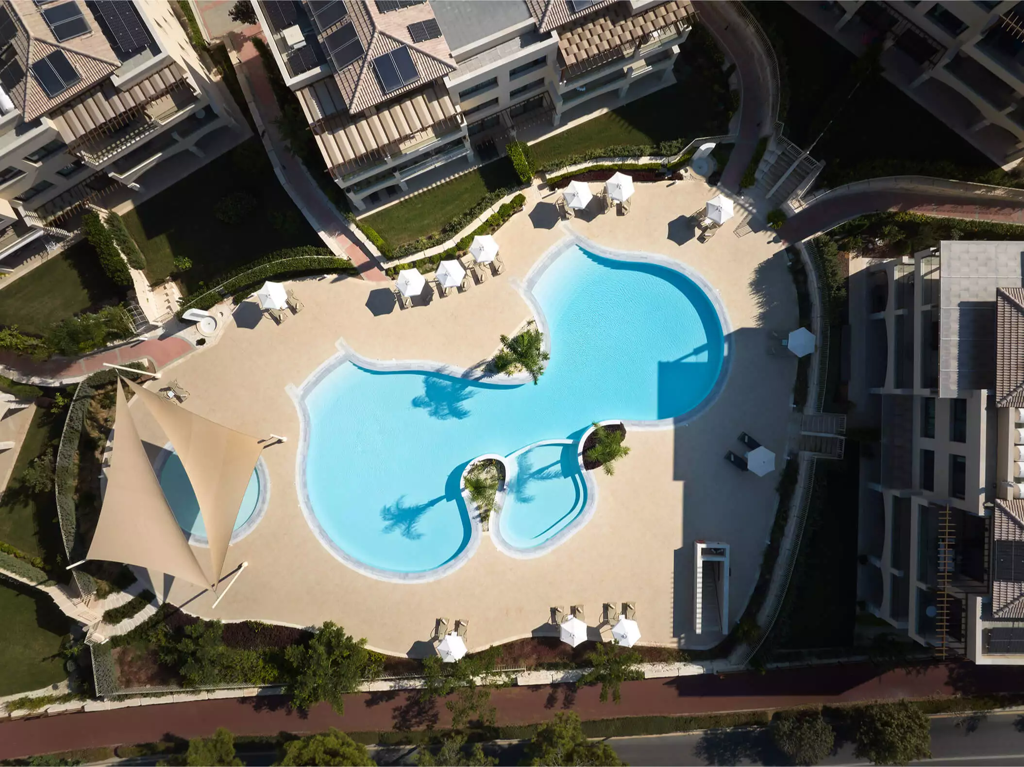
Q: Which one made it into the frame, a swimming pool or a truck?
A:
swimming pool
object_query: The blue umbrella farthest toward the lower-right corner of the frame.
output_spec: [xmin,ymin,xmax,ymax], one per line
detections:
[746,444,775,477]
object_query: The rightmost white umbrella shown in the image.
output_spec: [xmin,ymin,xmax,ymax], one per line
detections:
[705,194,733,226]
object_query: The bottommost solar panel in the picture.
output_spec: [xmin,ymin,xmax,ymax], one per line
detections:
[991,624,1024,652]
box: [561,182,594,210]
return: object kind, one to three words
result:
umbrella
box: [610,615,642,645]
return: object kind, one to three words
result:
umbrella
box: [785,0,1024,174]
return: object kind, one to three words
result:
building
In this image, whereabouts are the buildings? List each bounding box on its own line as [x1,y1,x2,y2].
[250,0,701,219]
[0,0,254,288]
[854,239,1024,666]
[785,0,1024,174]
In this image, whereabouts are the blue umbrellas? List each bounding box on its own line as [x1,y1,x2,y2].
[746,444,775,477]
[787,326,815,358]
